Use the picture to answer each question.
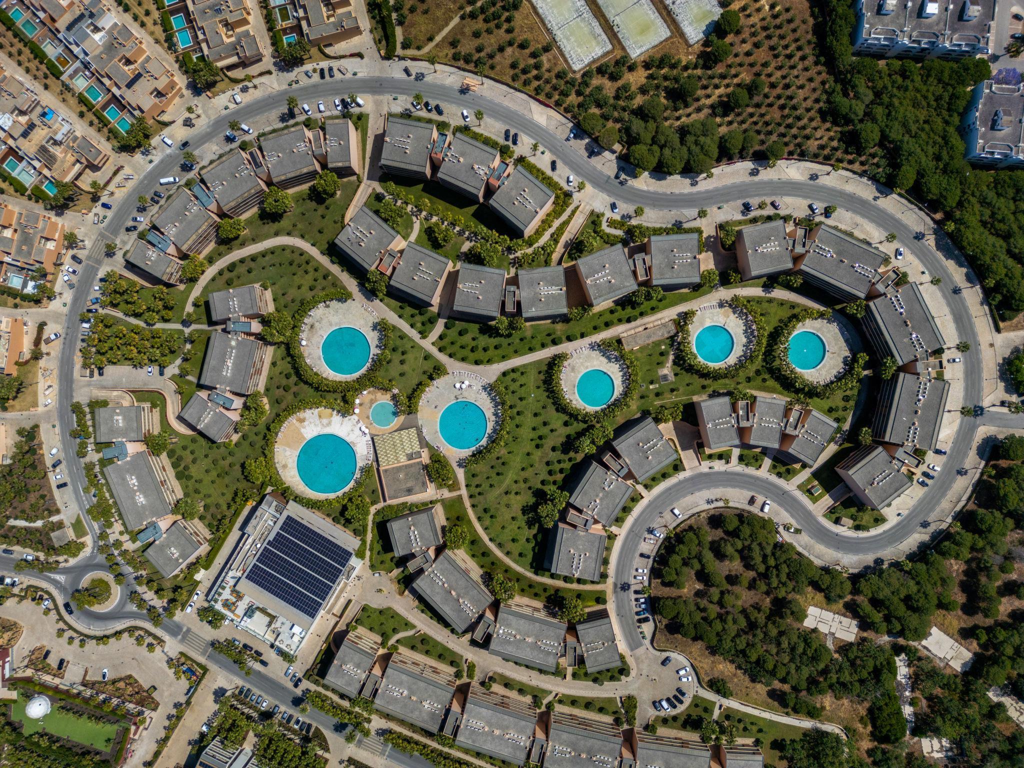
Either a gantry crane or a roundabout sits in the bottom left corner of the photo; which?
roundabout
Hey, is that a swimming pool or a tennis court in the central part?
swimming pool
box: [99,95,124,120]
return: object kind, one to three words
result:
swimming pool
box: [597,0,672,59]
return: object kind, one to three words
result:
tennis court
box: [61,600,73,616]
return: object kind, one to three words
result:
vehicle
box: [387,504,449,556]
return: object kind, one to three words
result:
building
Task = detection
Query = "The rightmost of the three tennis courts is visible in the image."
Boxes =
[663,0,724,46]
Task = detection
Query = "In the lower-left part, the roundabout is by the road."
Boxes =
[62,546,149,630]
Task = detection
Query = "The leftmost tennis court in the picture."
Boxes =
[530,0,613,72]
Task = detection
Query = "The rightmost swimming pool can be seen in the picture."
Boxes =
[786,318,852,382]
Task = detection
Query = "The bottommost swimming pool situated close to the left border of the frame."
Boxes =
[0,262,26,291]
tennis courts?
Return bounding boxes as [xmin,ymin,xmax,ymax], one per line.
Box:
[597,0,672,59]
[663,0,724,46]
[530,0,613,72]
